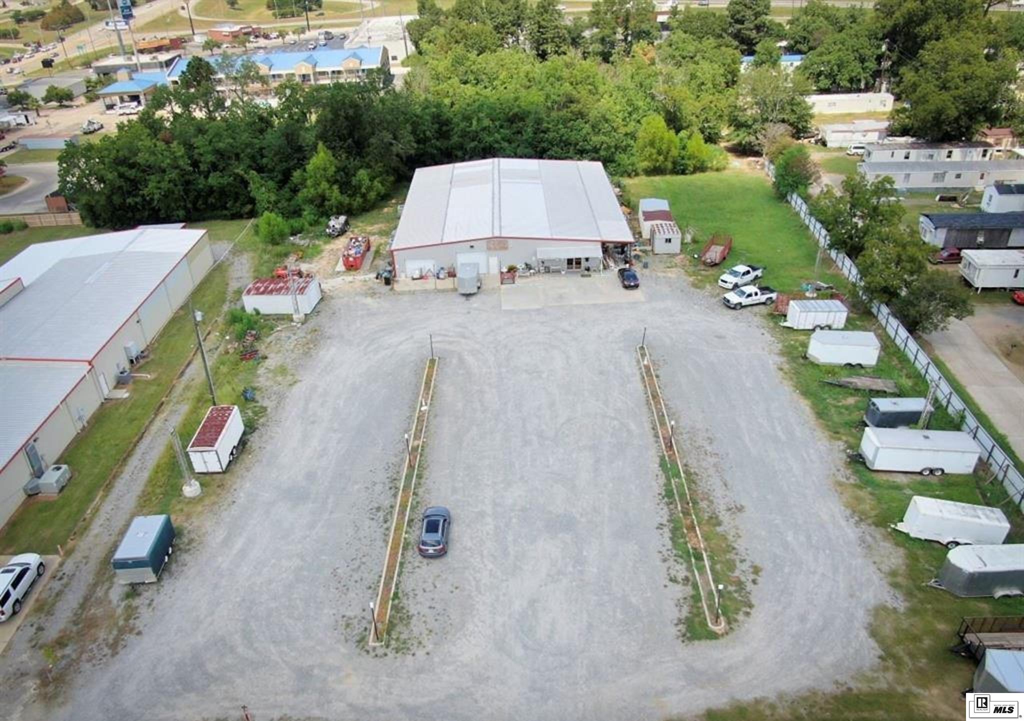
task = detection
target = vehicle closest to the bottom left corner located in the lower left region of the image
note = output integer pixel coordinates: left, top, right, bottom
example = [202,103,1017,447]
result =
[0,549,46,615]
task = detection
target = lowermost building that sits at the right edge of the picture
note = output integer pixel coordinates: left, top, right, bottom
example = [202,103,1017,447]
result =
[965,254,1024,290]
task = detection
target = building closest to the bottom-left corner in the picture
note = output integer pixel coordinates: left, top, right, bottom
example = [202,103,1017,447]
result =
[0,224,218,531]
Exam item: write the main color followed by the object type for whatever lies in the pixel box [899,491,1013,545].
white trailer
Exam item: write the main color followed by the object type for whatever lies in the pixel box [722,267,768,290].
white truck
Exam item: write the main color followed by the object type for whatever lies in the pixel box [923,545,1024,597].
white trailer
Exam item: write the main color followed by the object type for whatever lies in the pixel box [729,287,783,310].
white truck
